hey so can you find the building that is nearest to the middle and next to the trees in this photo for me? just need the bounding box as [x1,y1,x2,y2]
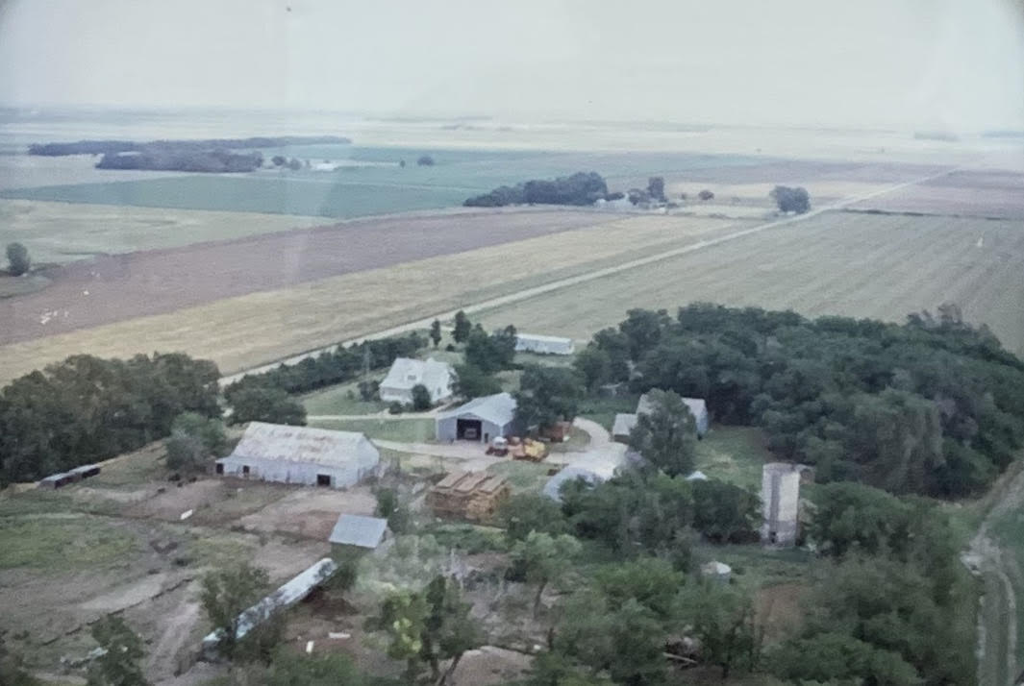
[515,337,578,357]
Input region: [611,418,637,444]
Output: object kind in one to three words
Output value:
shed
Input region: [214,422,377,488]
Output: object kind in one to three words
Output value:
barn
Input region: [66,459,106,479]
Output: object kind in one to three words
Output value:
shed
